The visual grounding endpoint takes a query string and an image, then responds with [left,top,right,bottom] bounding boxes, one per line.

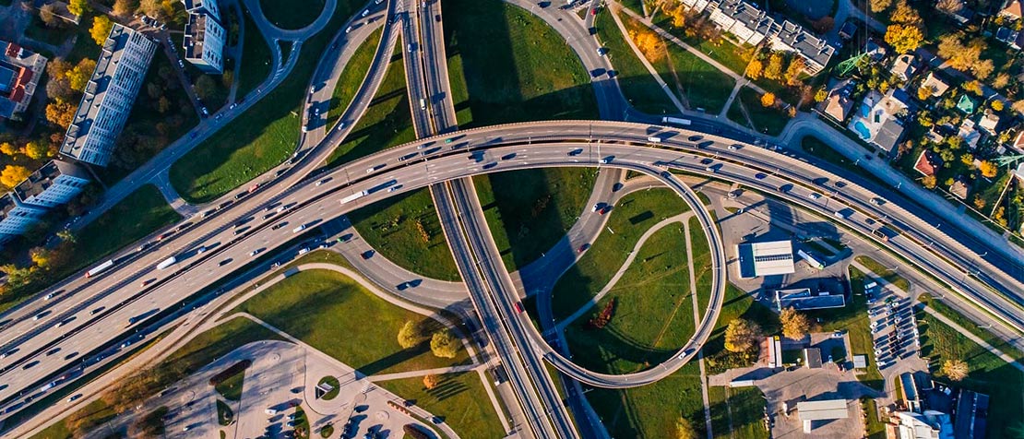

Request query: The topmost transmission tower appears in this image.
[832,55,872,77]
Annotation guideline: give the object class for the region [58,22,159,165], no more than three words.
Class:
building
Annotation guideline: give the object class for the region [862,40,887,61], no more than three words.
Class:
house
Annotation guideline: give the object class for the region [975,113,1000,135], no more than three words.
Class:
house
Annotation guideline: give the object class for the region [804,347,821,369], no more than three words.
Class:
shed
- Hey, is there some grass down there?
Yes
